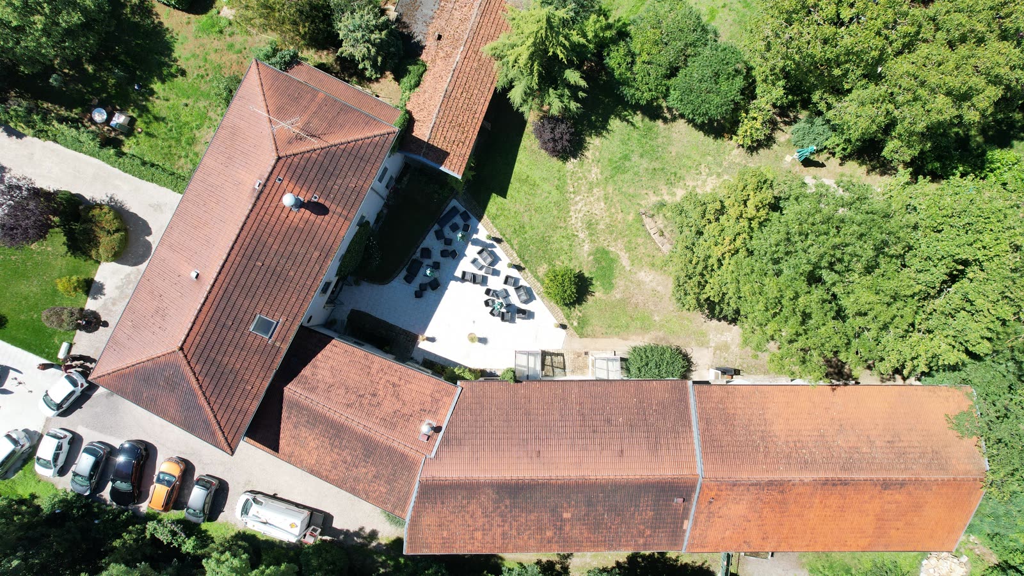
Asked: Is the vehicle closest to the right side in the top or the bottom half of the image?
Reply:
bottom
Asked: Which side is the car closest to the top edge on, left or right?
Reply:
left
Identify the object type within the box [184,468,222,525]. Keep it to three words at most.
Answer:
car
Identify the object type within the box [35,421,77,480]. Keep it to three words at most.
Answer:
car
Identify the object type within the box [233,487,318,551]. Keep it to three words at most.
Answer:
vehicle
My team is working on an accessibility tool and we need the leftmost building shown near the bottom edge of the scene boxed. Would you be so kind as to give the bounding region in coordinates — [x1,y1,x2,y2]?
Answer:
[402,379,704,555]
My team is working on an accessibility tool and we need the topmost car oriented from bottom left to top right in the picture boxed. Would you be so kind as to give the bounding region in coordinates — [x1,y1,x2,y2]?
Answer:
[38,365,94,419]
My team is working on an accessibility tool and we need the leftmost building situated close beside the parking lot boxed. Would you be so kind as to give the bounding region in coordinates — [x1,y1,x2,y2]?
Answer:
[89,58,402,457]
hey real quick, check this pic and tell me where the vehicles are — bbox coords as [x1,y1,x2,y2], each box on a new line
[71,434,115,500]
[111,434,153,507]
[35,421,77,480]
[233,487,318,551]
[0,424,39,482]
[38,365,94,419]
[184,468,222,525]
[142,450,192,516]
